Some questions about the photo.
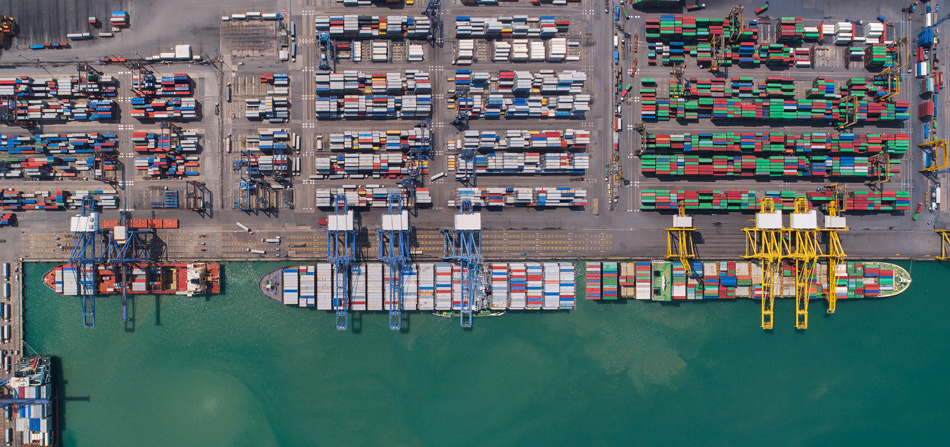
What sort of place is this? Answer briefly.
port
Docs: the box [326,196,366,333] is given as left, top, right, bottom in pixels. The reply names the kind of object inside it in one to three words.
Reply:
container crane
